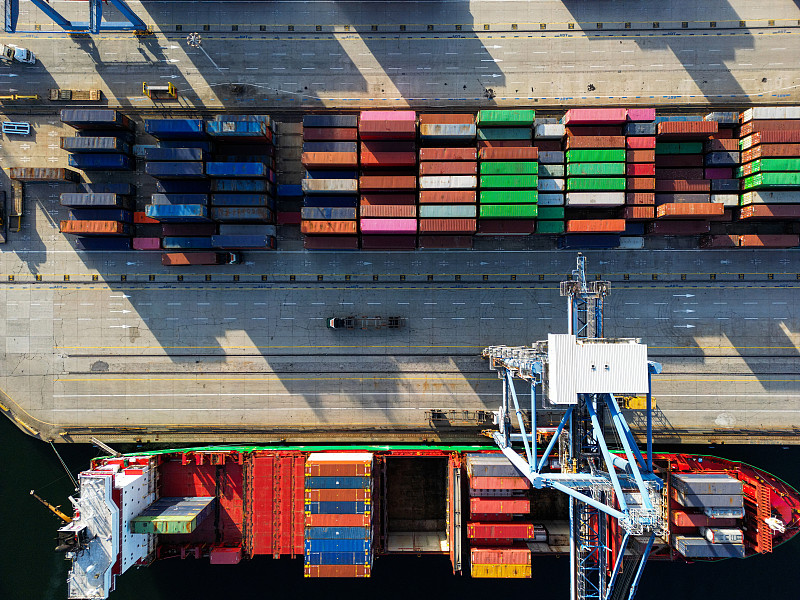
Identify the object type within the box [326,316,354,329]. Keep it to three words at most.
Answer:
vehicle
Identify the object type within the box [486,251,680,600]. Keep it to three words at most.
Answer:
crane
